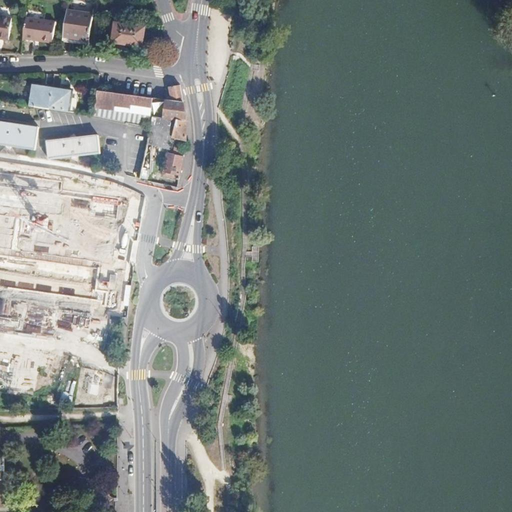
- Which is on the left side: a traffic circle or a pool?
traffic circle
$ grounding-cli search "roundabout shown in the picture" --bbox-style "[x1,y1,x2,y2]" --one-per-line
[132,252,218,352]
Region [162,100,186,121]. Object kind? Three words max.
house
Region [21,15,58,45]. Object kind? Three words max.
house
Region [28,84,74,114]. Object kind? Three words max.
building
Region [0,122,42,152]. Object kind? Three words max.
building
